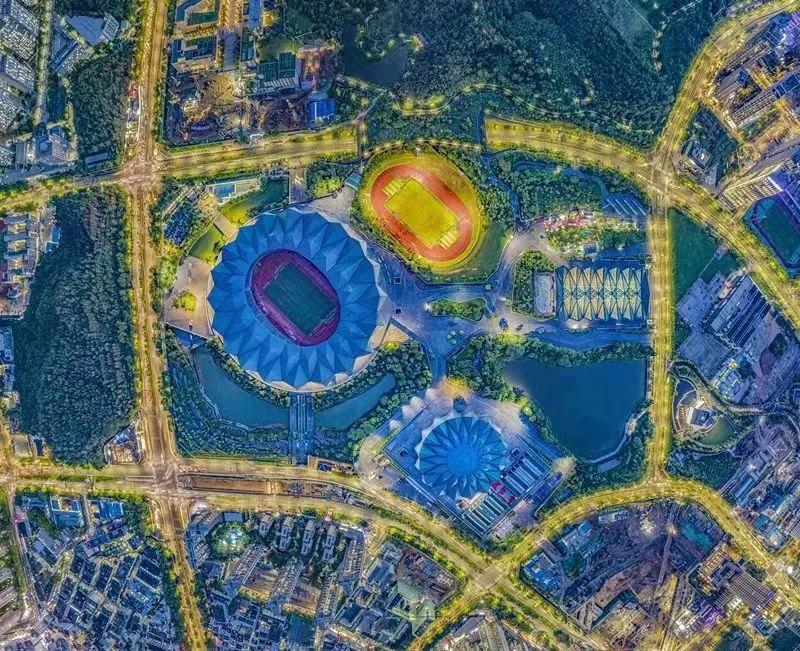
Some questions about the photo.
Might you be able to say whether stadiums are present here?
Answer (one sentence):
Yes, there's a stadium here.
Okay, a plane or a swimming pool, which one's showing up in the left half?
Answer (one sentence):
Visible in the left half is a swimming pool.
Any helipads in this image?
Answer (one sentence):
No, I can't see a single helipad in this photo.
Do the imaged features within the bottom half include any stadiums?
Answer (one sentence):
Yes, a stadium can be seen within the bottom half.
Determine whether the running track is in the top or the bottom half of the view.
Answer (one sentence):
The running track sits in the top half of the picture.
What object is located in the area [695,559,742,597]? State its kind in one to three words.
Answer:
building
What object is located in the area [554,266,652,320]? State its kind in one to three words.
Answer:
building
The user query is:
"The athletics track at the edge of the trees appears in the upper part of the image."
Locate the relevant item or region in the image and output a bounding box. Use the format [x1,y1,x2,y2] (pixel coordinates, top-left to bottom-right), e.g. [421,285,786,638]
[362,157,485,270]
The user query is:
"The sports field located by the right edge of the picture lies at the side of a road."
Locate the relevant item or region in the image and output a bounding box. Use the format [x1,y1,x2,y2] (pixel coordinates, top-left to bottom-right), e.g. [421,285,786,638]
[747,191,800,271]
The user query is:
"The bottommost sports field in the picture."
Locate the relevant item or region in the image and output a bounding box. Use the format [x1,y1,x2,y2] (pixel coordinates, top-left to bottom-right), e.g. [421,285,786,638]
[252,252,345,346]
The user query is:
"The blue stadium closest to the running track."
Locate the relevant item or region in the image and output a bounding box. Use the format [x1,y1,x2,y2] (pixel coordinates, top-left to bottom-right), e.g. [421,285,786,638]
[205,204,395,394]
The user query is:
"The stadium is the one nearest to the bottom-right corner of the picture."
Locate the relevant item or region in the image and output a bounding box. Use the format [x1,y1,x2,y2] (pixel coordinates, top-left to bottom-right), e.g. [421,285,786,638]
[414,406,506,499]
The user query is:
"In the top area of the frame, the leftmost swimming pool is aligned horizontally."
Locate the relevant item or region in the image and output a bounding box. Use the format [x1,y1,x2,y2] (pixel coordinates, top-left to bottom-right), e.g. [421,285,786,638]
[203,178,259,204]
